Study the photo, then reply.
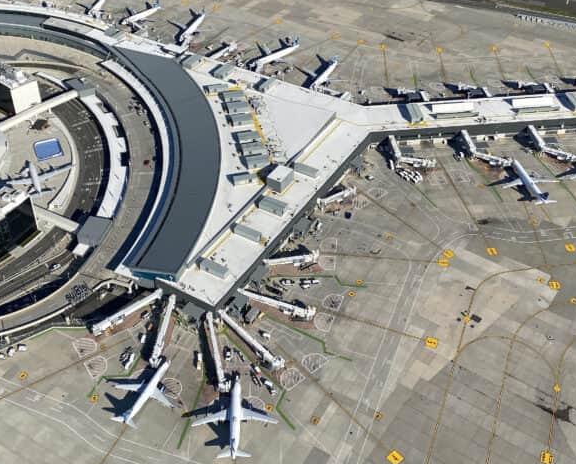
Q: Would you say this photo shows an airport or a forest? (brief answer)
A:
airport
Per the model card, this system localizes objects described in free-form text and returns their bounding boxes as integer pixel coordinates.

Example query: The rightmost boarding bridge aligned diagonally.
[528,128,576,168]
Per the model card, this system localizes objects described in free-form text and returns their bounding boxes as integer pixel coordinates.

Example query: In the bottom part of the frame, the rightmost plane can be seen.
[193,377,277,460]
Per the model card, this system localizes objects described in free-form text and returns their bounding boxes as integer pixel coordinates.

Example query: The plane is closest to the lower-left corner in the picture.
[113,363,178,429]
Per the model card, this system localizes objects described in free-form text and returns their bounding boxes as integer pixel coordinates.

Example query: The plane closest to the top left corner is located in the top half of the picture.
[83,0,115,12]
